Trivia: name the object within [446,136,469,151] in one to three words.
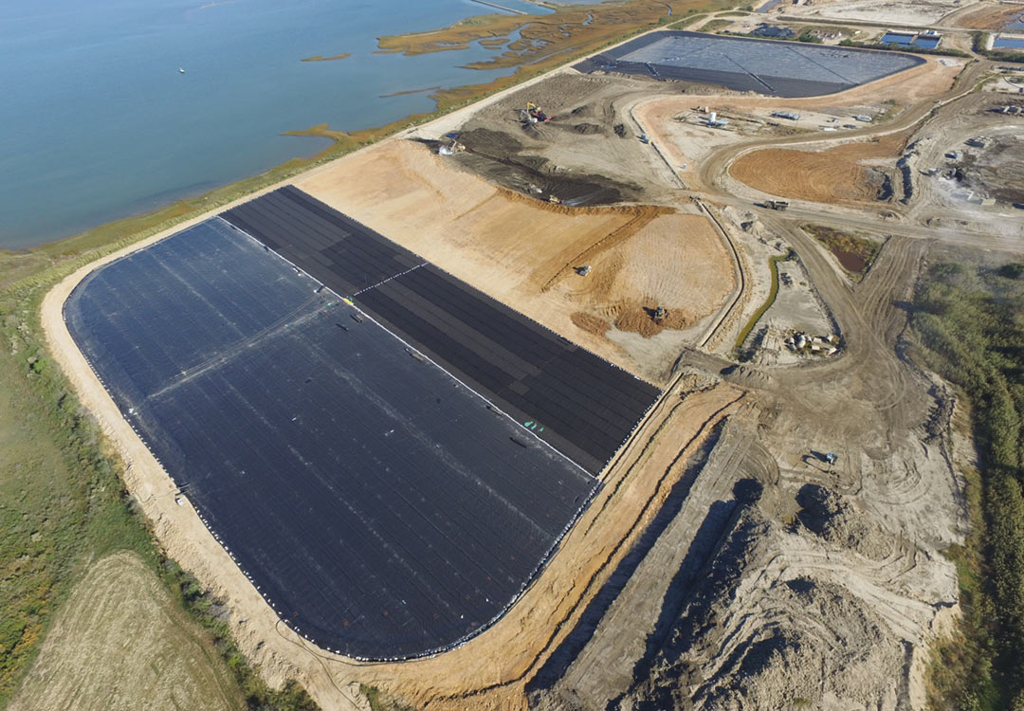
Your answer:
work vehicle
